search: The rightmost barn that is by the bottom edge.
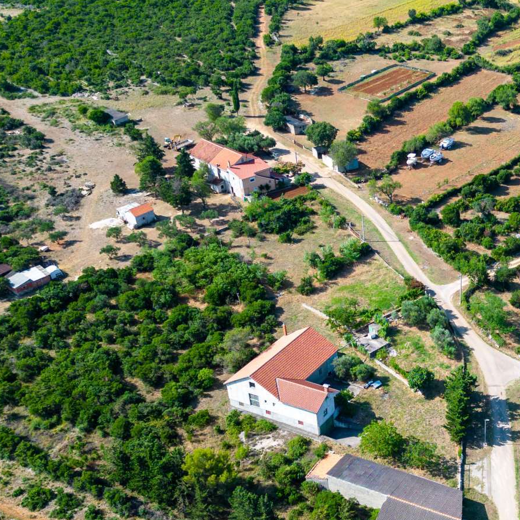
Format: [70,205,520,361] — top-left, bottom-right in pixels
[307,449,479,520]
